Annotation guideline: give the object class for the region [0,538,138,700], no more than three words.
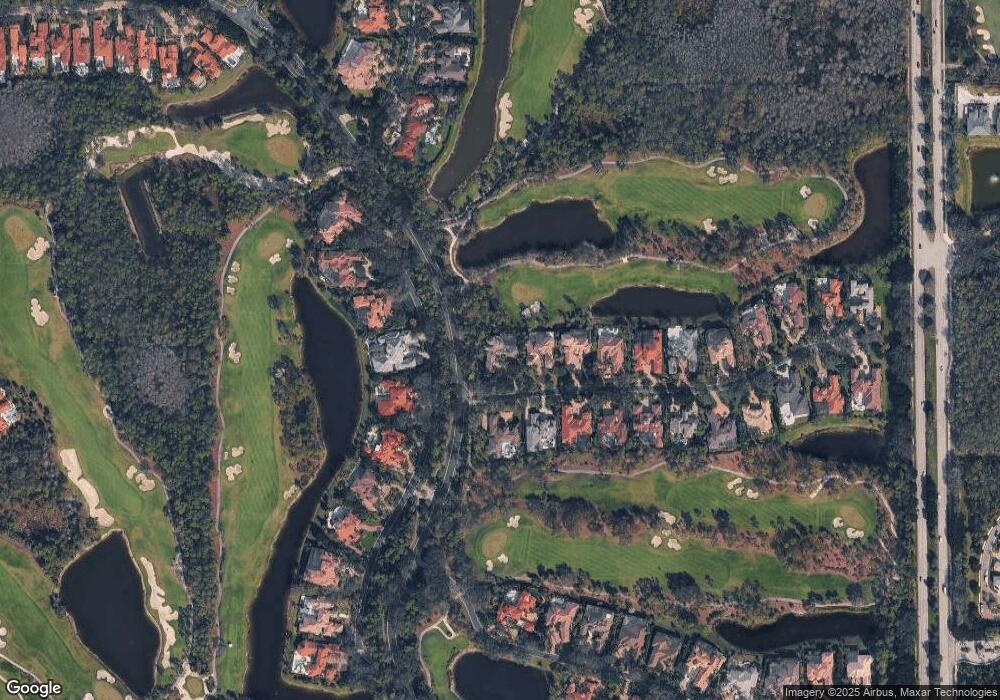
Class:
golf course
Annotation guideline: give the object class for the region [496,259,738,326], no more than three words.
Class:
golf course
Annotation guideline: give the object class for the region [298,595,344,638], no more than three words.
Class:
house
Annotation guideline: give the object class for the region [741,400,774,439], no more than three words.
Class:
house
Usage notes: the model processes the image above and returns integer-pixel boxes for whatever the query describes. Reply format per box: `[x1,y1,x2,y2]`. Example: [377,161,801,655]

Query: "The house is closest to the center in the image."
[484,335,519,373]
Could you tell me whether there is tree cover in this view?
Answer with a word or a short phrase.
Yes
